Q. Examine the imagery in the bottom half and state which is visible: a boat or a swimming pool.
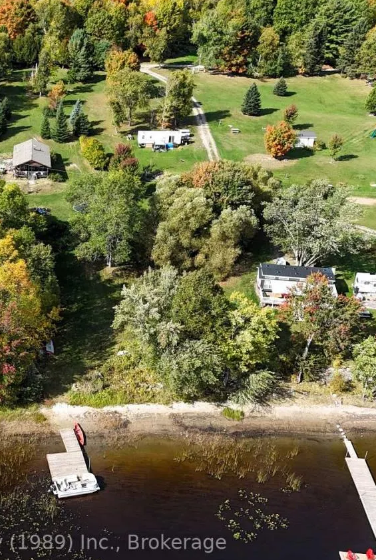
boat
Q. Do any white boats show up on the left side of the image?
Yes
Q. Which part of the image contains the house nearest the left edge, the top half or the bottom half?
top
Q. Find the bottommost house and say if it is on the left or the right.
right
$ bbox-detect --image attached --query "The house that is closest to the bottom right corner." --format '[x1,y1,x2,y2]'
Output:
[256,264,347,315]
